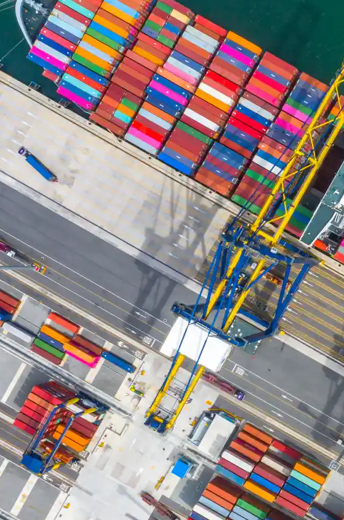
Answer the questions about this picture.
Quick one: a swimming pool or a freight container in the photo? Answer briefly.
freight container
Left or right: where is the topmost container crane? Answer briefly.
right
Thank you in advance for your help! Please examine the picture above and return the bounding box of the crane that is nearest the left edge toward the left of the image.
[22,391,109,481]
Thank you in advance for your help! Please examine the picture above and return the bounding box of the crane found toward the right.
[141,57,344,436]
